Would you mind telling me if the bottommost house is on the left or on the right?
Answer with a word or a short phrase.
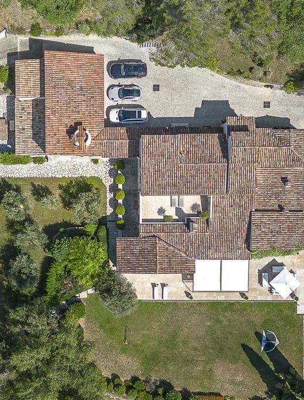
right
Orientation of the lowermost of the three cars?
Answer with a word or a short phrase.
from side to side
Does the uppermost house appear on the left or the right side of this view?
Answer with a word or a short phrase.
left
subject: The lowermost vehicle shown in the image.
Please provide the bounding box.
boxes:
[109,105,149,125]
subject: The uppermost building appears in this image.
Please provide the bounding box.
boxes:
[14,50,143,158]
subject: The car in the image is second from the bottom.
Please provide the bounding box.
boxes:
[107,83,143,102]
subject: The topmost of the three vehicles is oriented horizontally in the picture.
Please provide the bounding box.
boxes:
[109,59,149,79]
